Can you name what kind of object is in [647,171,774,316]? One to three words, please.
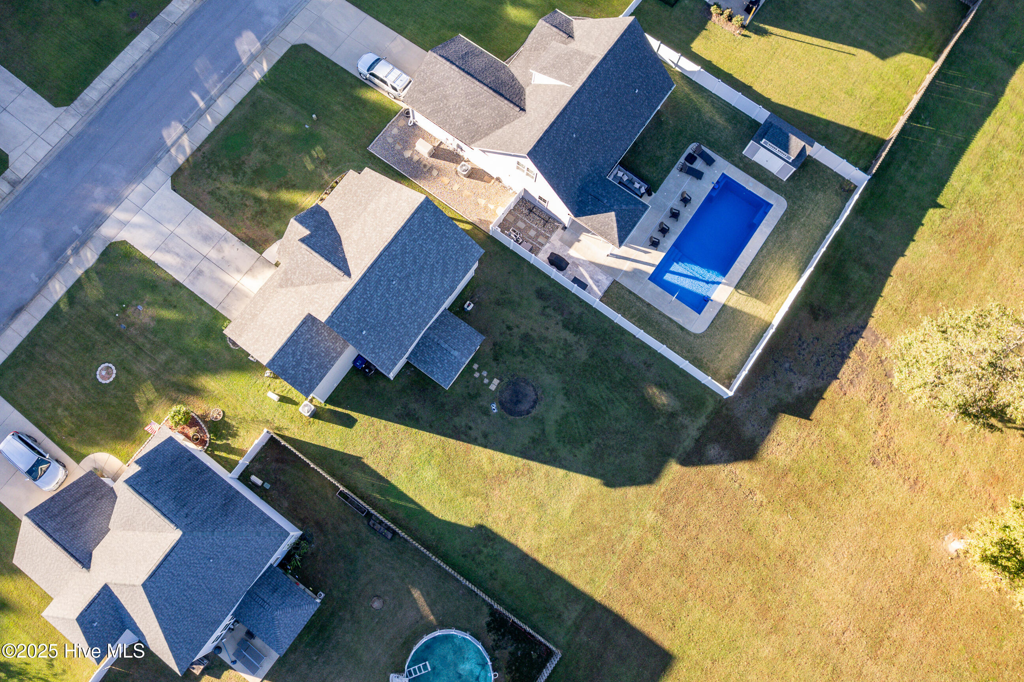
swimming pool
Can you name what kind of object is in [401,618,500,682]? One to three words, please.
swimming pool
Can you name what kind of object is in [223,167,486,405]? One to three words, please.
house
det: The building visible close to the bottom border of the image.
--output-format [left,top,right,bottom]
[12,425,321,682]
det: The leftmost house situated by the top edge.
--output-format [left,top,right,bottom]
[400,8,677,256]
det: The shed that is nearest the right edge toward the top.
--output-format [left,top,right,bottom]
[743,113,815,180]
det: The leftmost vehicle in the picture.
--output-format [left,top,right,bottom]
[0,432,70,494]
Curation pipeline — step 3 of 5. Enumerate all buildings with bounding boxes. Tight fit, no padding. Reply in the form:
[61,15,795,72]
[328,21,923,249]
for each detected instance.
[400,8,677,256]
[743,113,815,180]
[12,425,321,682]
[223,167,486,405]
